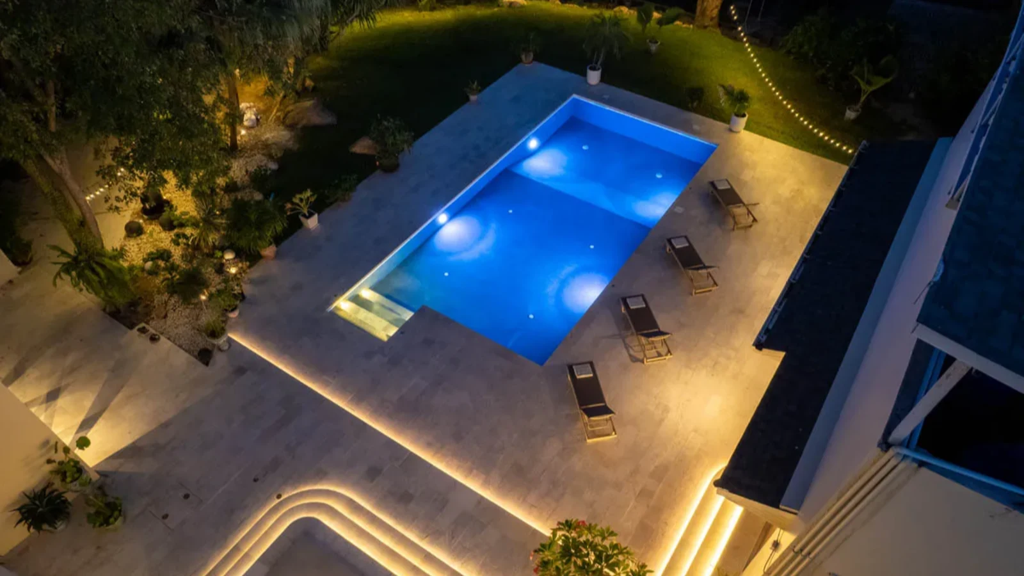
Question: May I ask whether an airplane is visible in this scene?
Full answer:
No, this view has no airplane in it.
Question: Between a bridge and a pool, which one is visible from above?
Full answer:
The one in the frame is a pool.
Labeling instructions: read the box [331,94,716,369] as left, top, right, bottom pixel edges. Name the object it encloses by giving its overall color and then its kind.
blue swimming pool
